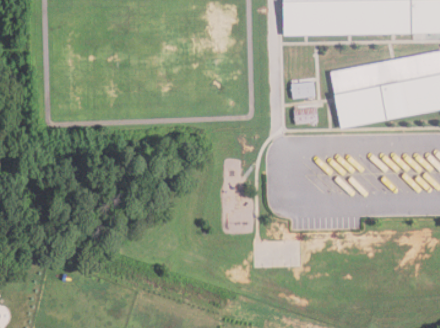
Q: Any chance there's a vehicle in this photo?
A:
Yes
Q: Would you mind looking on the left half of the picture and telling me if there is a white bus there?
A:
No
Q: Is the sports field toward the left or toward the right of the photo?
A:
left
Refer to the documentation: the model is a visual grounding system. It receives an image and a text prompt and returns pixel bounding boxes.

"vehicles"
[414,176,432,192]
[380,153,400,174]
[334,154,355,174]
[368,152,388,172]
[380,176,398,194]
[334,176,355,196]
[390,152,412,172]
[326,158,348,177]
[344,154,366,174]
[312,156,333,176]
[348,176,368,197]
[424,153,440,172]
[400,173,422,194]
[421,172,440,192]
[402,153,424,174]
[413,152,434,173]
